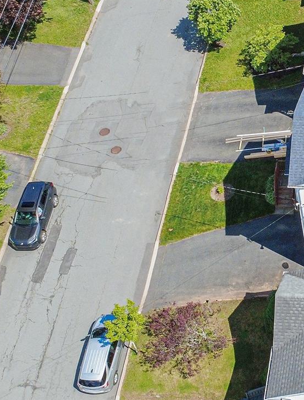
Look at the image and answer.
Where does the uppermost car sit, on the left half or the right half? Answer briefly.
left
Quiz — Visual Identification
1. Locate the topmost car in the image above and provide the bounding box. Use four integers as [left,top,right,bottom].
[1,182,55,253]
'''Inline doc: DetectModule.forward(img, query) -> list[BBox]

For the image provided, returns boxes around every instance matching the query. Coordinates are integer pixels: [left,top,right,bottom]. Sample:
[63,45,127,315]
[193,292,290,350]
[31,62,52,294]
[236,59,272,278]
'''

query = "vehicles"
[73,310,125,394]
[1,182,55,253]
